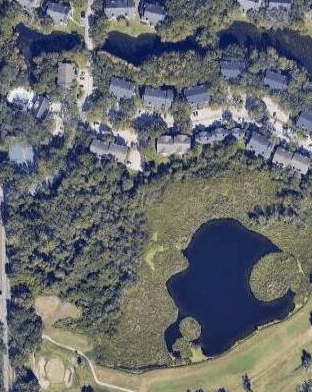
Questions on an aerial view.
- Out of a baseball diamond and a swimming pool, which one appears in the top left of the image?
swimming pool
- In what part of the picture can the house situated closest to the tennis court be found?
top left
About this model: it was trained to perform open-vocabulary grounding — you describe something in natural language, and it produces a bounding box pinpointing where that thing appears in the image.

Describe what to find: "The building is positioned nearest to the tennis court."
[30,94,54,119]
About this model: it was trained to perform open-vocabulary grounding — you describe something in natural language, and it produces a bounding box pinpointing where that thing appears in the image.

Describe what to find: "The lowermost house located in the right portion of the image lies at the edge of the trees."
[271,147,312,176]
